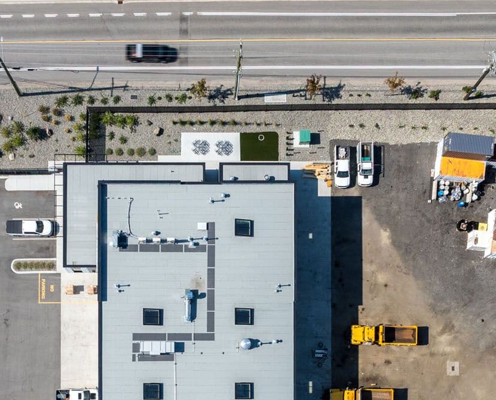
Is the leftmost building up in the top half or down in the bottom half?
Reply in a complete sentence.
The leftmost building is in the bottom half of the image.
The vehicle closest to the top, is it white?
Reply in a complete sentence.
No, the vehicle closest to the top is actually black.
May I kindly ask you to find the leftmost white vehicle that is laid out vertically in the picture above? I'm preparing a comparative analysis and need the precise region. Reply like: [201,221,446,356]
[335,142,354,189]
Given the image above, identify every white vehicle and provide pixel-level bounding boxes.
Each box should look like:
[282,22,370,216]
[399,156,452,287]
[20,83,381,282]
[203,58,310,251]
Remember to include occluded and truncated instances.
[55,387,98,400]
[6,217,51,236]
[358,138,377,187]
[335,142,354,189]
